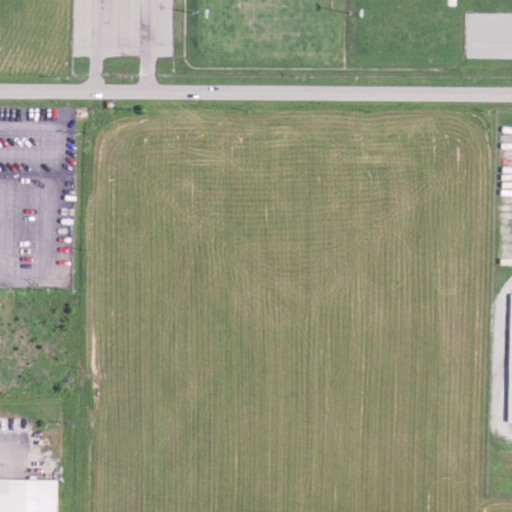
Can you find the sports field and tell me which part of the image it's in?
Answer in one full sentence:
The sports field appears toward the top of the photo.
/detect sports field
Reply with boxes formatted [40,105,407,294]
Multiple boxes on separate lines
[188,0,344,68]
